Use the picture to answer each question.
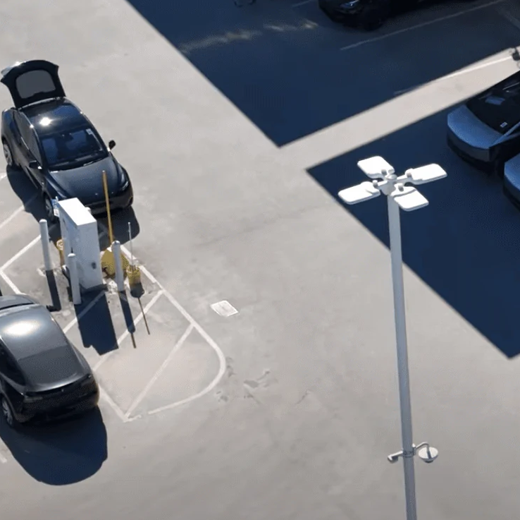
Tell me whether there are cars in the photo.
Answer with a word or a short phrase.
Yes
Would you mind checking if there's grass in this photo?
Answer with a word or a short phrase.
No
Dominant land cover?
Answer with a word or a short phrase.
paved ground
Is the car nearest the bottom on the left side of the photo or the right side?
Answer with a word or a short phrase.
left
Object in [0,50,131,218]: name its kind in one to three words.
car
